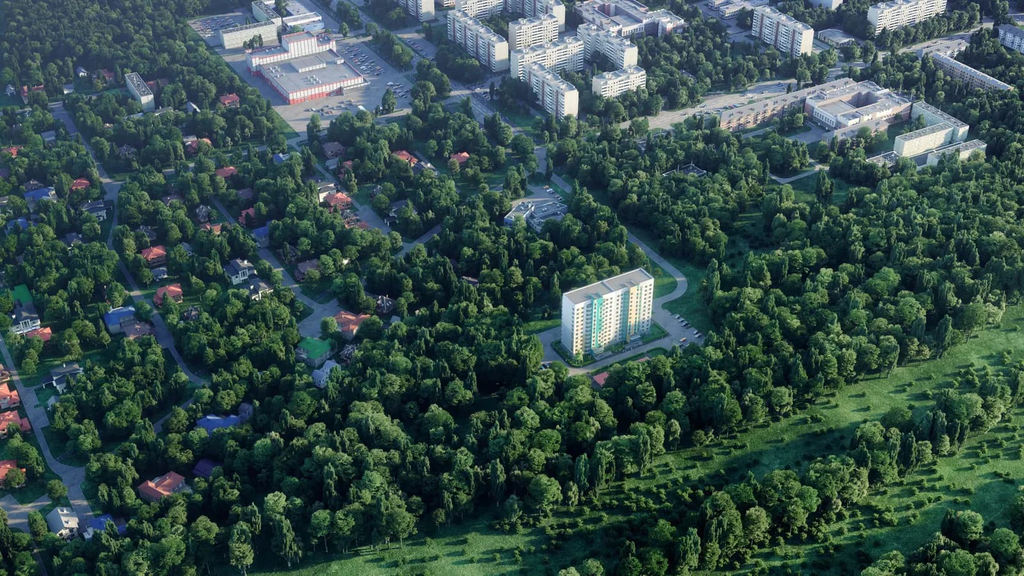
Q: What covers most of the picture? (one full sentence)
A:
The scene is dominated by trees.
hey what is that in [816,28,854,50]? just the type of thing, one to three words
building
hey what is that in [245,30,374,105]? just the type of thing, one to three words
building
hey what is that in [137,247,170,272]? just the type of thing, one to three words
house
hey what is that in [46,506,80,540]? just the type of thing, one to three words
house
